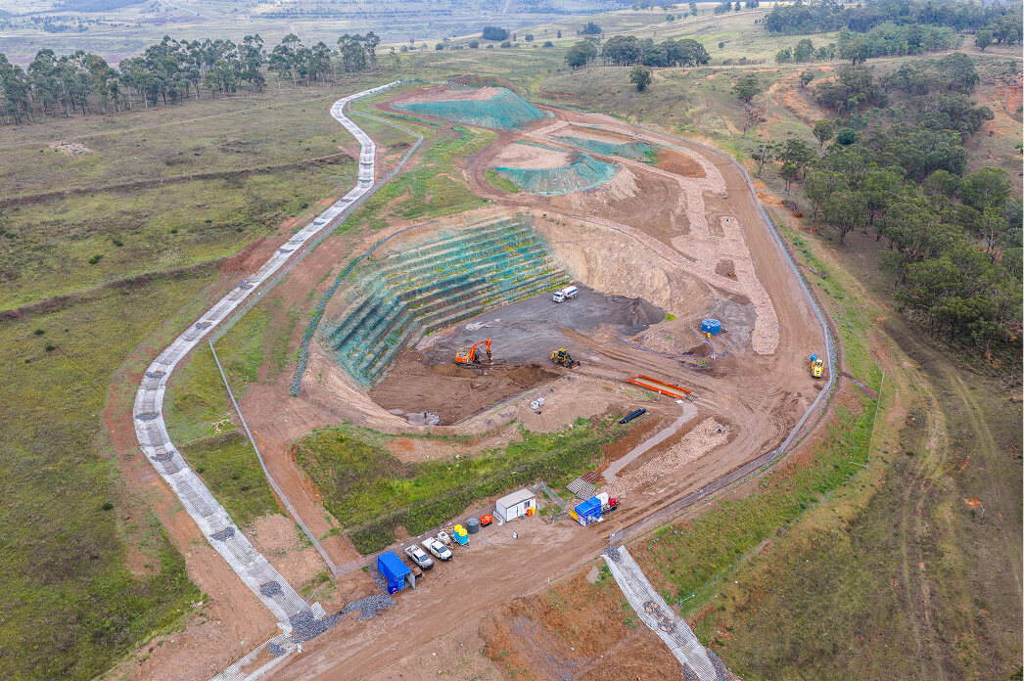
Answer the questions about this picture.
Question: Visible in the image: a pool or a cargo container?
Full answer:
Of the two, only a cargo container appears.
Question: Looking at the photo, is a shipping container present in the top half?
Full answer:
No, no shipping container appears in the top half.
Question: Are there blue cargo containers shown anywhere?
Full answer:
Yes, the image includes a blue cargo container.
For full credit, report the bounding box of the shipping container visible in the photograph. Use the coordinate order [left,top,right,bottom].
[376,552,414,592]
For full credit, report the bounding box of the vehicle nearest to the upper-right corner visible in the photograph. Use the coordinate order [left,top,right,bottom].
[556,286,581,300]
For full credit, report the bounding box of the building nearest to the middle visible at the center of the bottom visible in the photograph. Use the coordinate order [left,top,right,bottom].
[494,488,536,522]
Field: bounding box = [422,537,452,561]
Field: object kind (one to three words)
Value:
truck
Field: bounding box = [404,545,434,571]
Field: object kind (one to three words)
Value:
truck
